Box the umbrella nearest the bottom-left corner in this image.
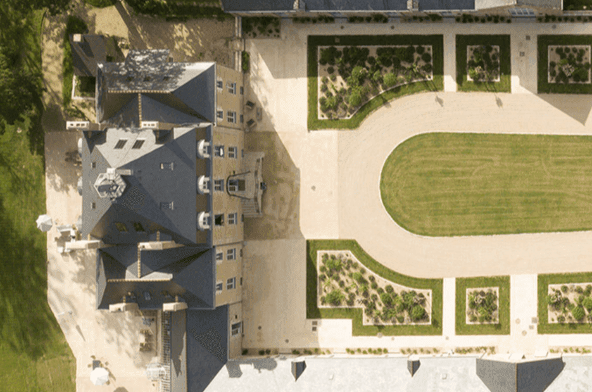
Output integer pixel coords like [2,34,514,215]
[91,367,110,385]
